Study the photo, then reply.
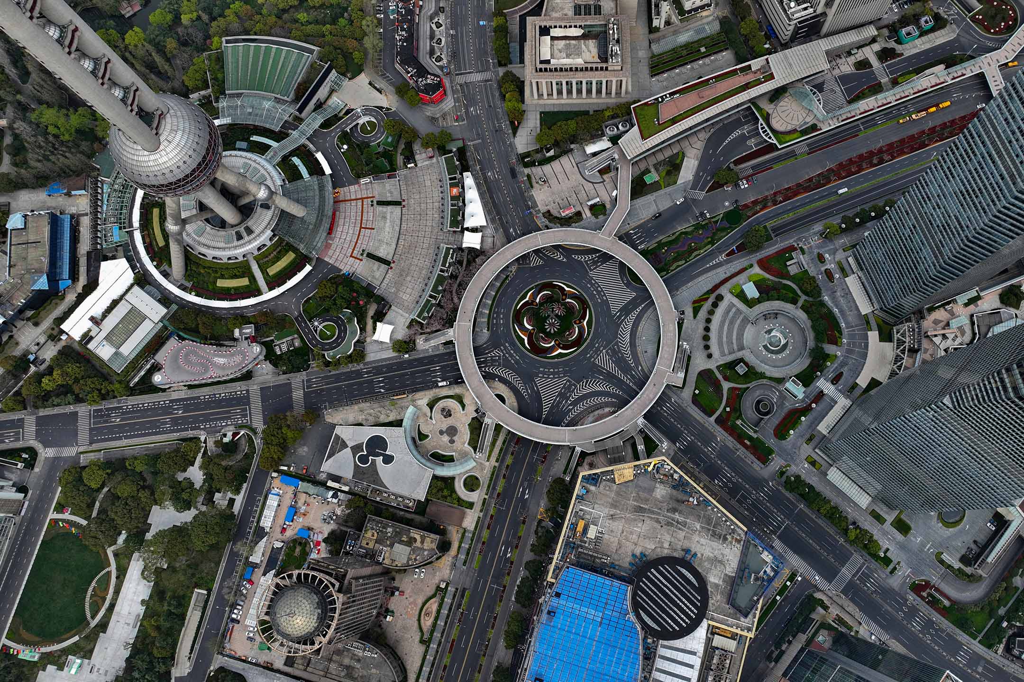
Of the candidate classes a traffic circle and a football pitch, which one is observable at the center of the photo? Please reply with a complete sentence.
Looking at the center of the photo, you will find a traffic circle.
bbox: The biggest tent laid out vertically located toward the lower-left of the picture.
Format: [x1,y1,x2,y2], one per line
[262,494,281,535]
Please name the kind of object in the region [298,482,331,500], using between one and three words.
tent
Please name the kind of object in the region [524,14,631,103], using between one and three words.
building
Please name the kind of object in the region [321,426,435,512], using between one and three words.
building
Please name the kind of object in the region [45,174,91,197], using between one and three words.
shed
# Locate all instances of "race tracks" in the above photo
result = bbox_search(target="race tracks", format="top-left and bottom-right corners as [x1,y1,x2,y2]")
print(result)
[152,339,267,388]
